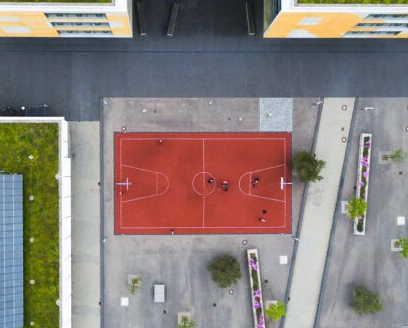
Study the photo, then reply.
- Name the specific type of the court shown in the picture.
basketball court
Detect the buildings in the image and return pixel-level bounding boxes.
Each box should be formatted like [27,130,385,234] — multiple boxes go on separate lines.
[0,117,71,328]
[264,0,408,38]
[0,0,132,38]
